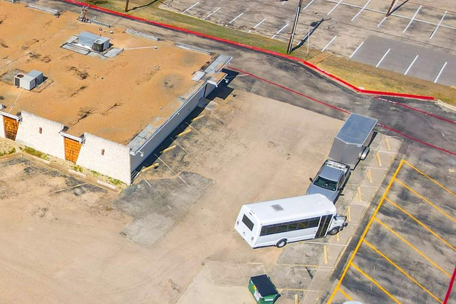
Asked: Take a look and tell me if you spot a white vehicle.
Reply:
Yes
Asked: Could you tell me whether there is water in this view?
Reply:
No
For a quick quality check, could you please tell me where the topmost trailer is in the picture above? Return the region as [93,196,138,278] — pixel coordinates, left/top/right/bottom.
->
[327,113,375,164]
